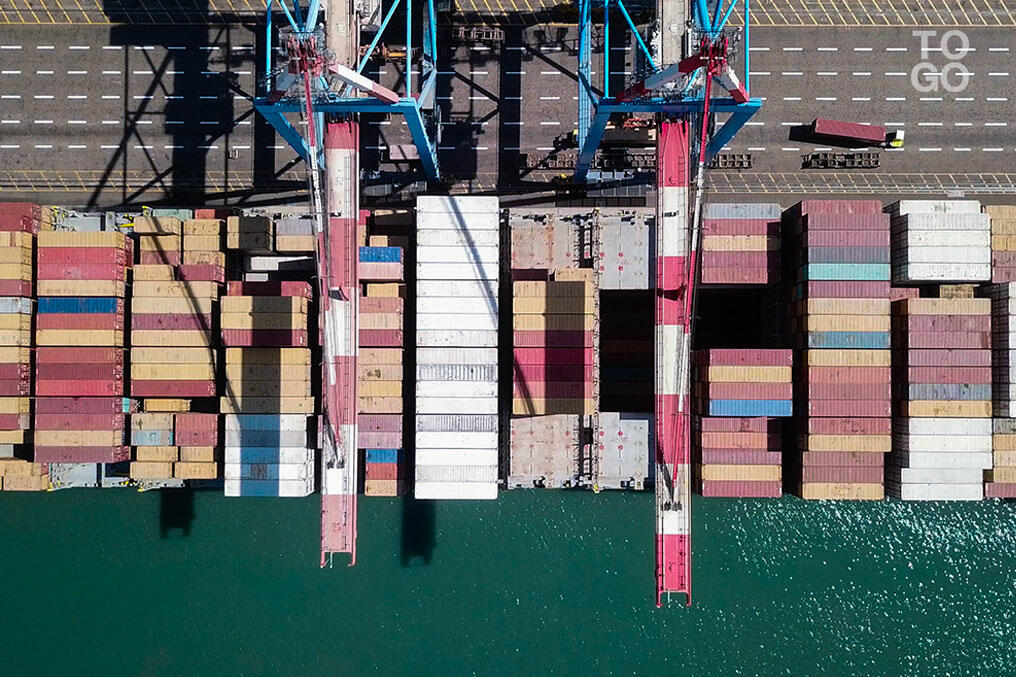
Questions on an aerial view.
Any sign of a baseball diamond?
No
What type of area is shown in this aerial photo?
port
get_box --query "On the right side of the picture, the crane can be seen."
[557,0,762,608]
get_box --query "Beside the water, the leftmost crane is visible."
[251,0,454,568]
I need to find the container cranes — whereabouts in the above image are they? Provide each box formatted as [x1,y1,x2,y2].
[251,0,454,568]
[557,0,762,608]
